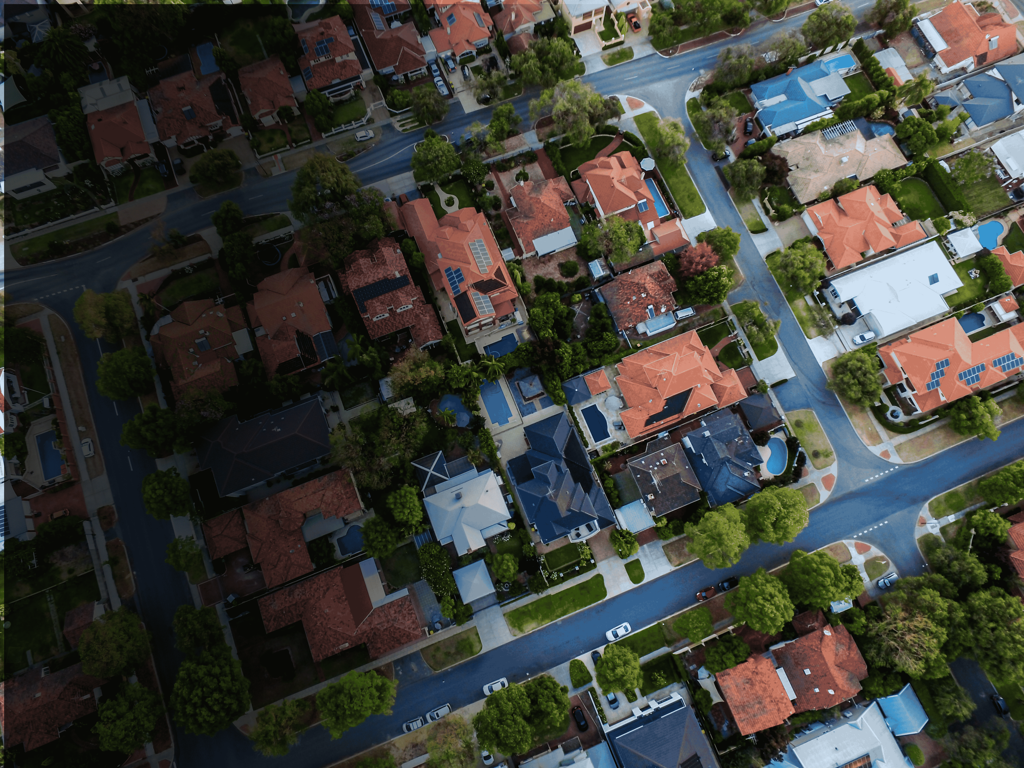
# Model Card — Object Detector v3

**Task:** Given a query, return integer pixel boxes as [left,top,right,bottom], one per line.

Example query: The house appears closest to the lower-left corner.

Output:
[0,647,119,753]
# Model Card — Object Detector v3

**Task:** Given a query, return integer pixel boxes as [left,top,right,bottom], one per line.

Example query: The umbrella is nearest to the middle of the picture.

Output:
[454,411,472,428]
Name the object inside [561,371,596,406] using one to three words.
building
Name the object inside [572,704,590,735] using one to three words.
car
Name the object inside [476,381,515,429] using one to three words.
swimming pool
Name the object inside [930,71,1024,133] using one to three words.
house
